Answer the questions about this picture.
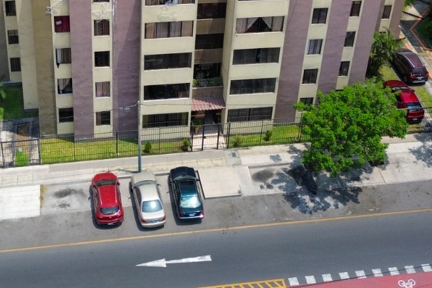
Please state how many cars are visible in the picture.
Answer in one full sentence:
The count of cars comes to 5.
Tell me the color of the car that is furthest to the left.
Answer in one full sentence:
From above, the car that is furthest to the left appears red.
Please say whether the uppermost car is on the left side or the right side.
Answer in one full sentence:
The uppermost car appears in the right half of the scene.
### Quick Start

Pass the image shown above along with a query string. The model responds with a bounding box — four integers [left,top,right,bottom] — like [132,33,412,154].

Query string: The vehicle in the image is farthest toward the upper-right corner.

[384,40,425,78]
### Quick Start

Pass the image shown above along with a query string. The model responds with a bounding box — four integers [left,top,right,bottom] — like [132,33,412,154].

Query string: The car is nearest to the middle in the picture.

[173,164,212,220]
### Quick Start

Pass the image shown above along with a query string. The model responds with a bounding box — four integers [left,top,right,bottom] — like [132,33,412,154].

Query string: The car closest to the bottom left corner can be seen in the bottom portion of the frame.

[86,171,121,225]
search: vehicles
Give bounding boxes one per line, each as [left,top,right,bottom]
[384,40,425,78]
[173,164,212,220]
[86,171,121,225]
[382,77,426,116]
[130,168,166,224]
